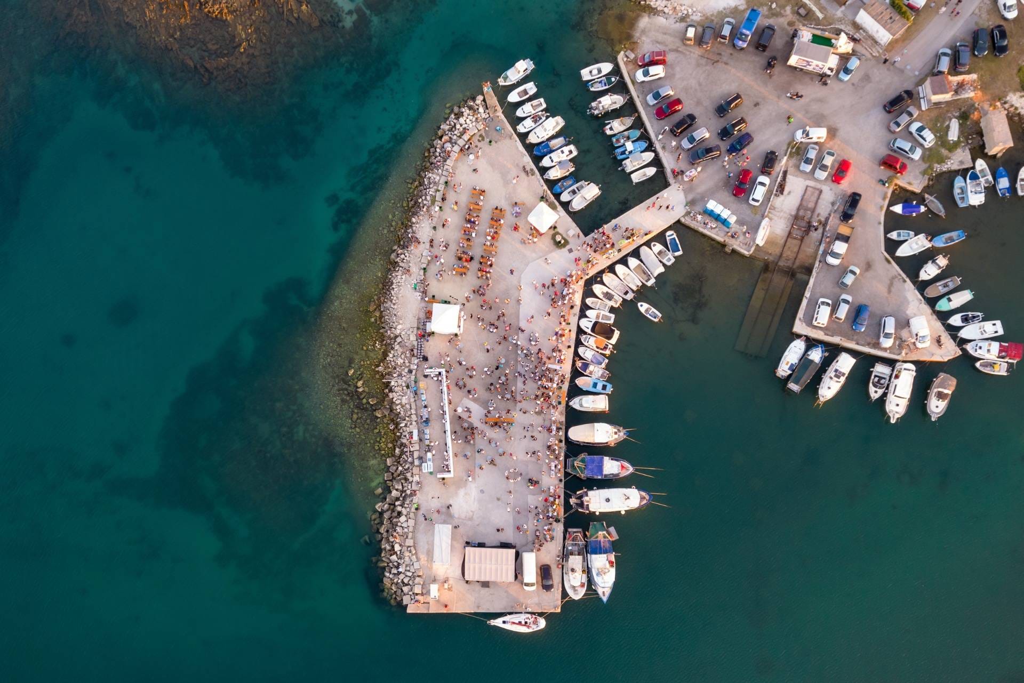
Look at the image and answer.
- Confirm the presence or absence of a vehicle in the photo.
Yes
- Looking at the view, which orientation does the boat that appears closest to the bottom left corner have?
horizontally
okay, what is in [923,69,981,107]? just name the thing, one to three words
shed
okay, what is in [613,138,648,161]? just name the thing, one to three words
boat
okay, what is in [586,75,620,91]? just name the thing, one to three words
boat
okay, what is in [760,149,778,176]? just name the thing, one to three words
car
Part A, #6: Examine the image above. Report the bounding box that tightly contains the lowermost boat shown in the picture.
[462,612,551,632]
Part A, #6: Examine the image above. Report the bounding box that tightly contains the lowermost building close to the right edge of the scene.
[971,101,1013,168]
